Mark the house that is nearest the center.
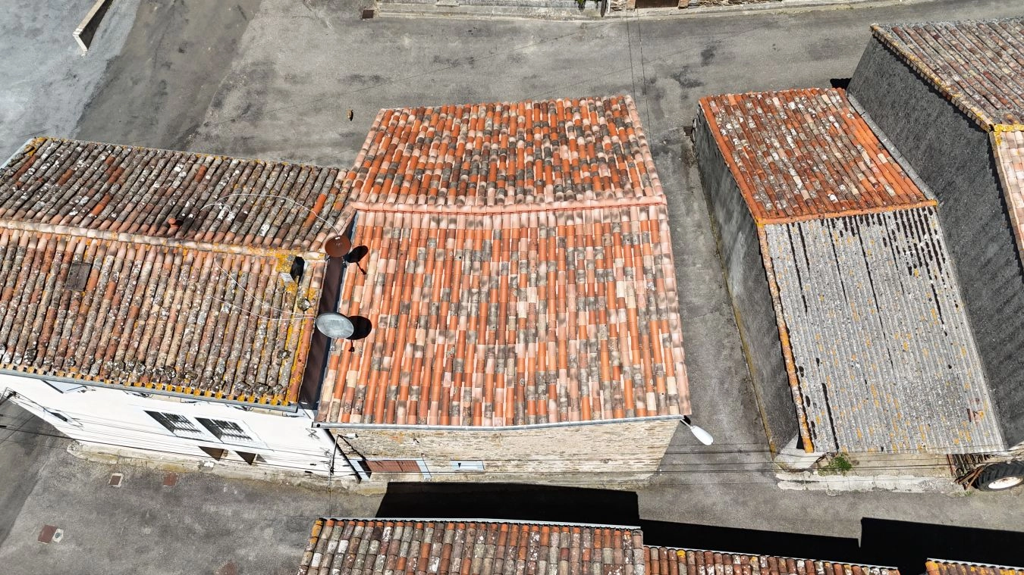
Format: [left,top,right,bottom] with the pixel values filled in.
[305,92,696,479]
